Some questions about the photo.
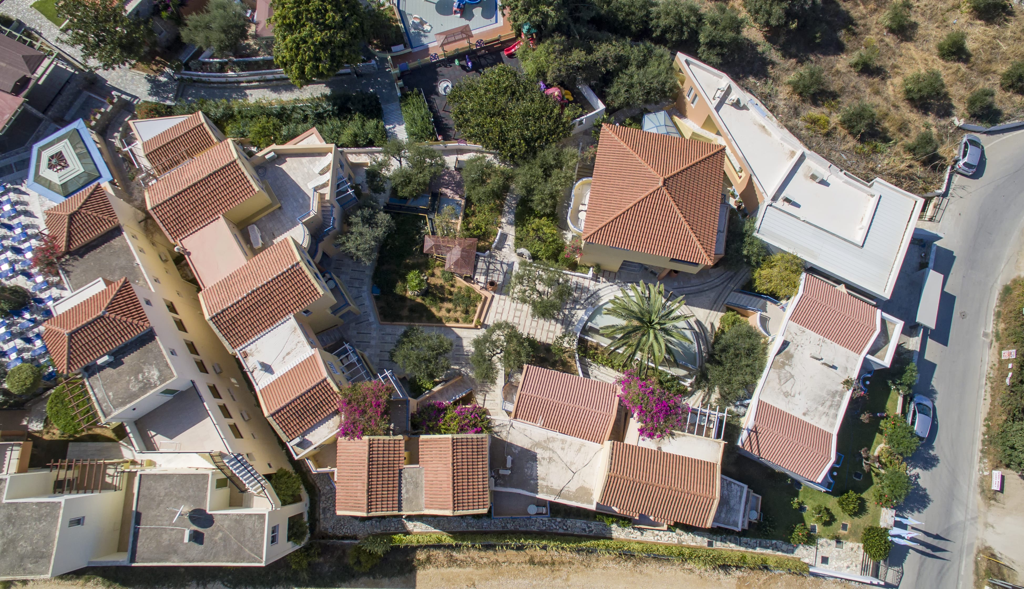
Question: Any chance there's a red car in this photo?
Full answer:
No, this view has no red car in it.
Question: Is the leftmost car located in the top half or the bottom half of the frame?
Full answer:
It is in the bottom half that the leftmost car appears.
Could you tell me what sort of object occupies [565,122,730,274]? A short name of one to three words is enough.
house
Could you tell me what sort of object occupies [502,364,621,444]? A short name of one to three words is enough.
house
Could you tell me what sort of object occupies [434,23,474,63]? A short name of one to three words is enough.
gazebo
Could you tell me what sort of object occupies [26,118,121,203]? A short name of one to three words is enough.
building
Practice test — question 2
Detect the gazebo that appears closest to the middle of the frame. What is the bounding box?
[423,235,479,283]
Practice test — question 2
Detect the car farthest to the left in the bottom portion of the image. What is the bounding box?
[905,395,934,442]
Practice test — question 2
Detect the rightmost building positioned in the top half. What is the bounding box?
[674,52,925,304]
